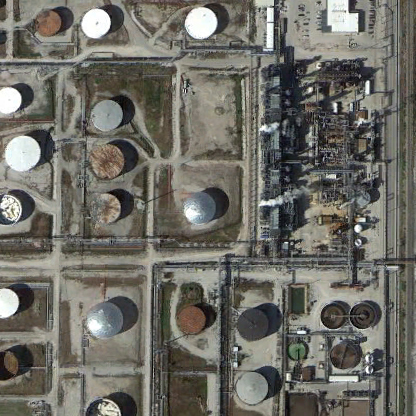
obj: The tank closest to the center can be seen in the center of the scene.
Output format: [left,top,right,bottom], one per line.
[182,191,217,226]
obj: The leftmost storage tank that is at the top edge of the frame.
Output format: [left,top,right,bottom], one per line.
[34,9,63,38]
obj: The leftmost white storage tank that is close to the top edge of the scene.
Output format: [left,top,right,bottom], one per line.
[80,8,112,40]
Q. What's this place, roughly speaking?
industrial area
